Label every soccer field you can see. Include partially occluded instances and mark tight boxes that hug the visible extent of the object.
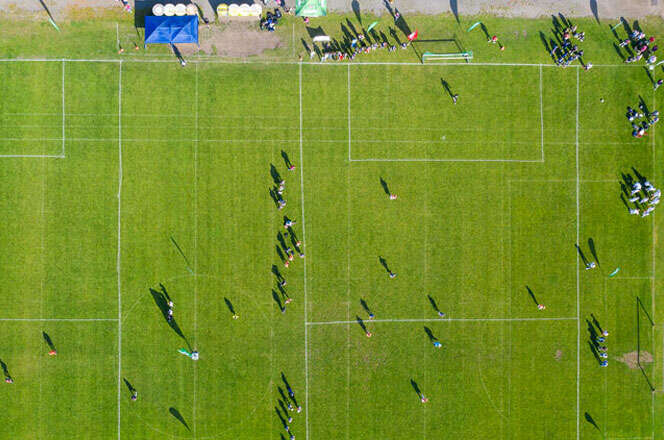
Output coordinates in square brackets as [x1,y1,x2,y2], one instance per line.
[0,60,653,440]
[300,62,578,440]
[0,60,120,440]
